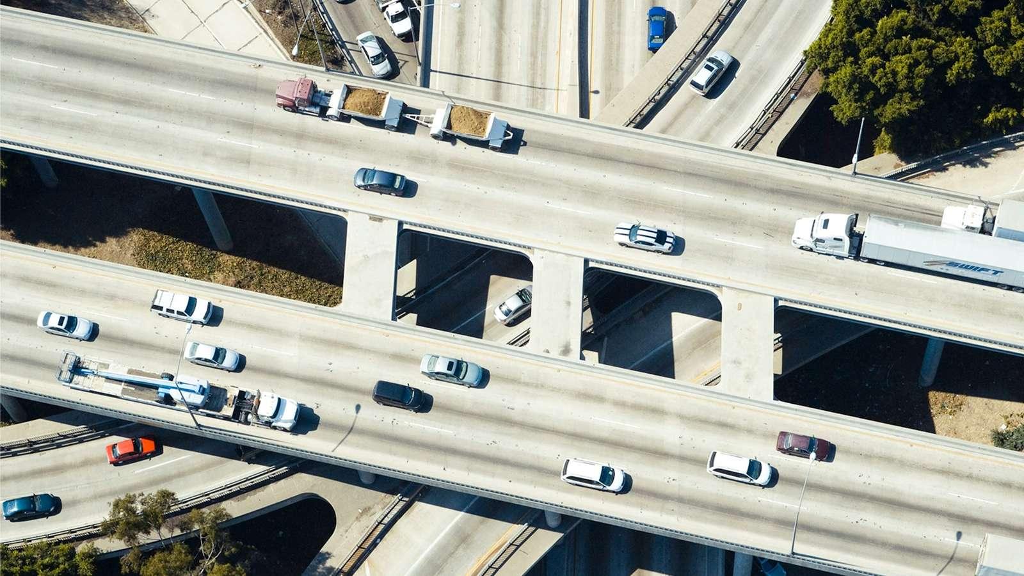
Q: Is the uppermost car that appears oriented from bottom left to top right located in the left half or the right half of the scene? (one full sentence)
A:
The uppermost car that appears oriented from bottom left to top right is on the right side of the image.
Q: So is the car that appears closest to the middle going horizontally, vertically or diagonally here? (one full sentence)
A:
What the image shows is the car that appears closest to the middle lying diagonally.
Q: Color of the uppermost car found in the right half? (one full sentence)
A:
In this view, the uppermost car found in the right half is blue.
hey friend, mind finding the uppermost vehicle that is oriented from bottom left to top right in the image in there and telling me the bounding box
[689,53,734,98]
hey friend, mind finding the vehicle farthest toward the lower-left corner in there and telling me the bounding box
[2,494,58,523]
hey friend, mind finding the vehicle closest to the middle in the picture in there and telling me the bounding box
[491,284,533,329]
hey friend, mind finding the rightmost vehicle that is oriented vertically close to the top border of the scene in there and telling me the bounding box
[646,8,667,53]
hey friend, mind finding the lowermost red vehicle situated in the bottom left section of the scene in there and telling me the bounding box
[105,437,159,467]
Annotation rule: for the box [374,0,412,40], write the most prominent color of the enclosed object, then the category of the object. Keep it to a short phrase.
white truck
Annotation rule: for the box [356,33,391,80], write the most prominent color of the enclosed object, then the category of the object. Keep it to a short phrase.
white car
